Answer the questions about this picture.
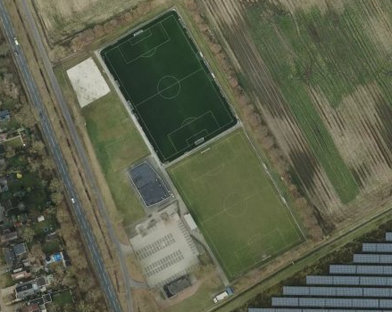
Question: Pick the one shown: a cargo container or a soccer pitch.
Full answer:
This aerial view contains a soccer pitch.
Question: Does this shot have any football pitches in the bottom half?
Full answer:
Yes, you'll find a football pitch in the bottom half.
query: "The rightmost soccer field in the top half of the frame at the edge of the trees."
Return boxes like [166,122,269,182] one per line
[103,14,236,160]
